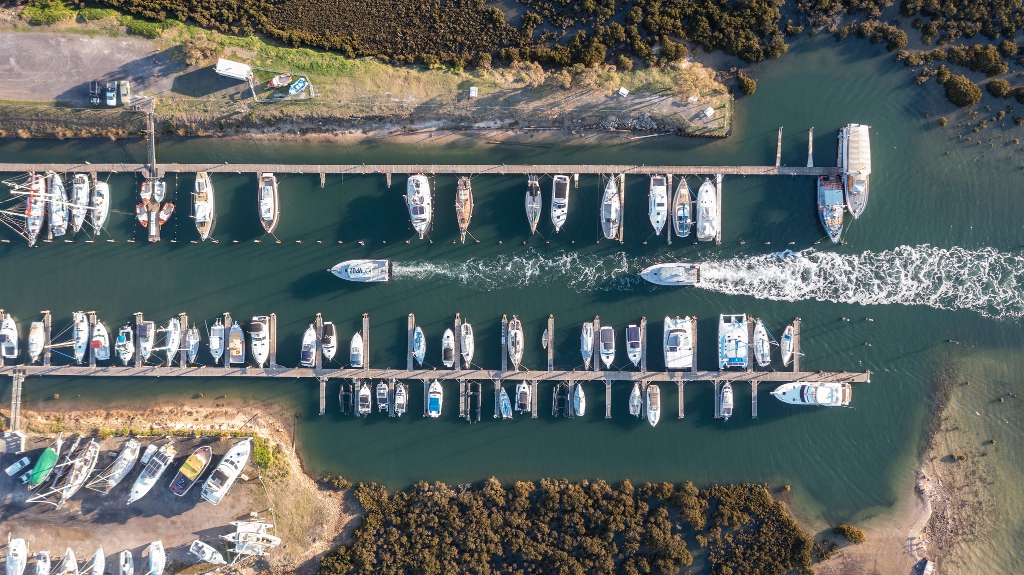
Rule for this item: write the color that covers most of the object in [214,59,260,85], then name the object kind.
white truck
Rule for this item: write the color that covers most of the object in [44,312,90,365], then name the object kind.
white boat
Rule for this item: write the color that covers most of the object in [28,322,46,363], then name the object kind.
white boat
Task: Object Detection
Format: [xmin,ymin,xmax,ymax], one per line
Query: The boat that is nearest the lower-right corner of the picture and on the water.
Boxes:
[770,380,853,409]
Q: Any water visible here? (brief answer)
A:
Yes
